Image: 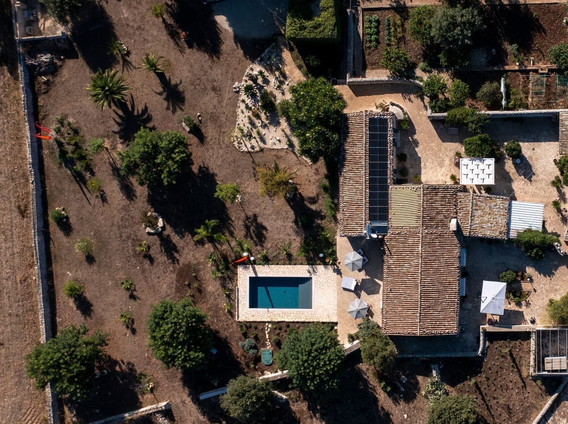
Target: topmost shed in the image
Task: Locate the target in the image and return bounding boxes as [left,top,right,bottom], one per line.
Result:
[286,0,345,47]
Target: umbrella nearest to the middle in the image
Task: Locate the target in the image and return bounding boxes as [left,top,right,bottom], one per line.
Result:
[343,250,364,271]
